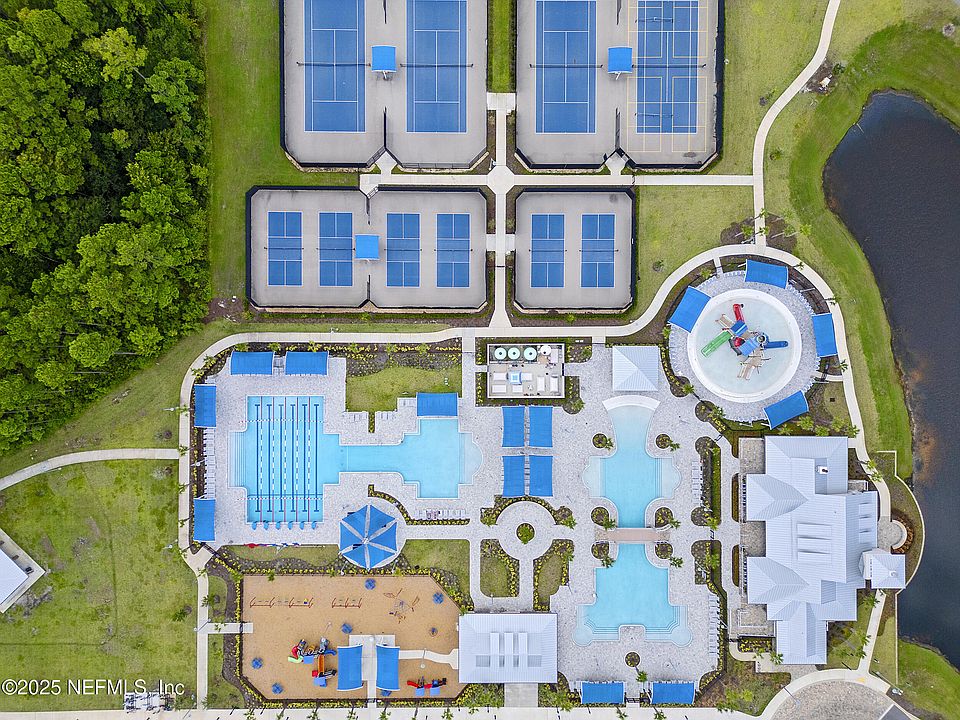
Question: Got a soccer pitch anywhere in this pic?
No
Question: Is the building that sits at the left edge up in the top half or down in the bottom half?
bottom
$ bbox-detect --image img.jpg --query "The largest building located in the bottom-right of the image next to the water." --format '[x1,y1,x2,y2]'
[742,436,878,664]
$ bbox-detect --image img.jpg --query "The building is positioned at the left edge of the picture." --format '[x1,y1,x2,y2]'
[0,548,29,607]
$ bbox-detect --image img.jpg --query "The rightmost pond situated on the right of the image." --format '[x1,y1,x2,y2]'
[819,93,960,673]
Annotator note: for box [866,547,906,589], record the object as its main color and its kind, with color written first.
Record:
white gazebo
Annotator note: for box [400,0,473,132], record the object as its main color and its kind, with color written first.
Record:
blue tennis court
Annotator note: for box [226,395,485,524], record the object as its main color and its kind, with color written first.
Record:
blue swimming pool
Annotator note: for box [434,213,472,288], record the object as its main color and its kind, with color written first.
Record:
blue sports court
